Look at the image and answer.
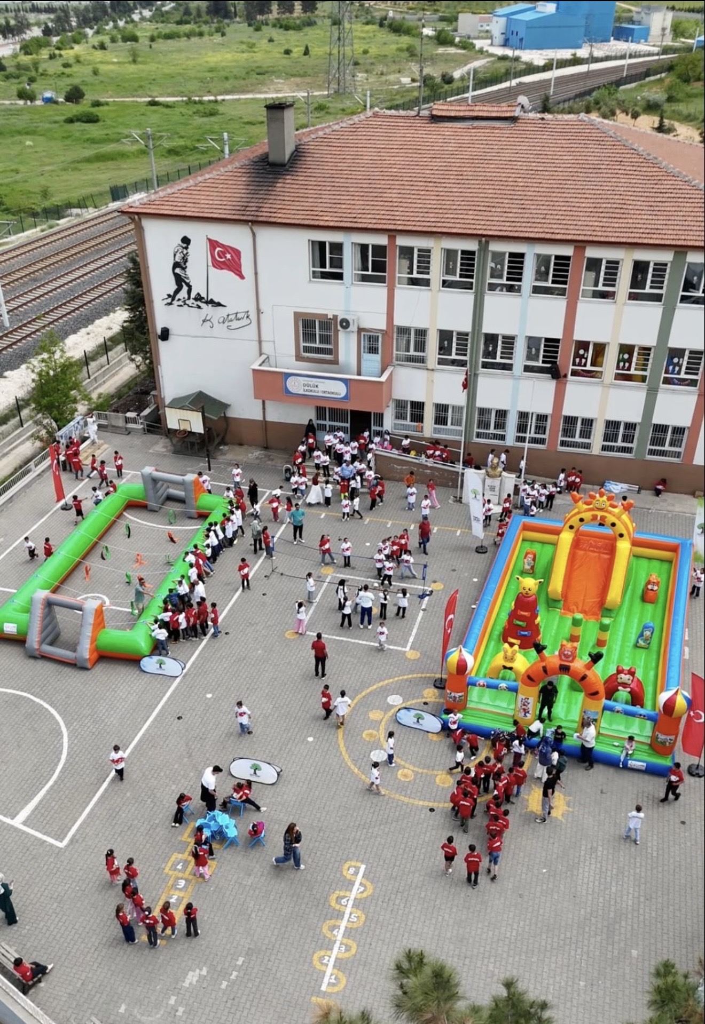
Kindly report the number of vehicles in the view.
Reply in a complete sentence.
I count no vehicles.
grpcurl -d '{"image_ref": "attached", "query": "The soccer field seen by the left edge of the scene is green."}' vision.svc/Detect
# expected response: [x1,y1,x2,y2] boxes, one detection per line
[0,476,236,666]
